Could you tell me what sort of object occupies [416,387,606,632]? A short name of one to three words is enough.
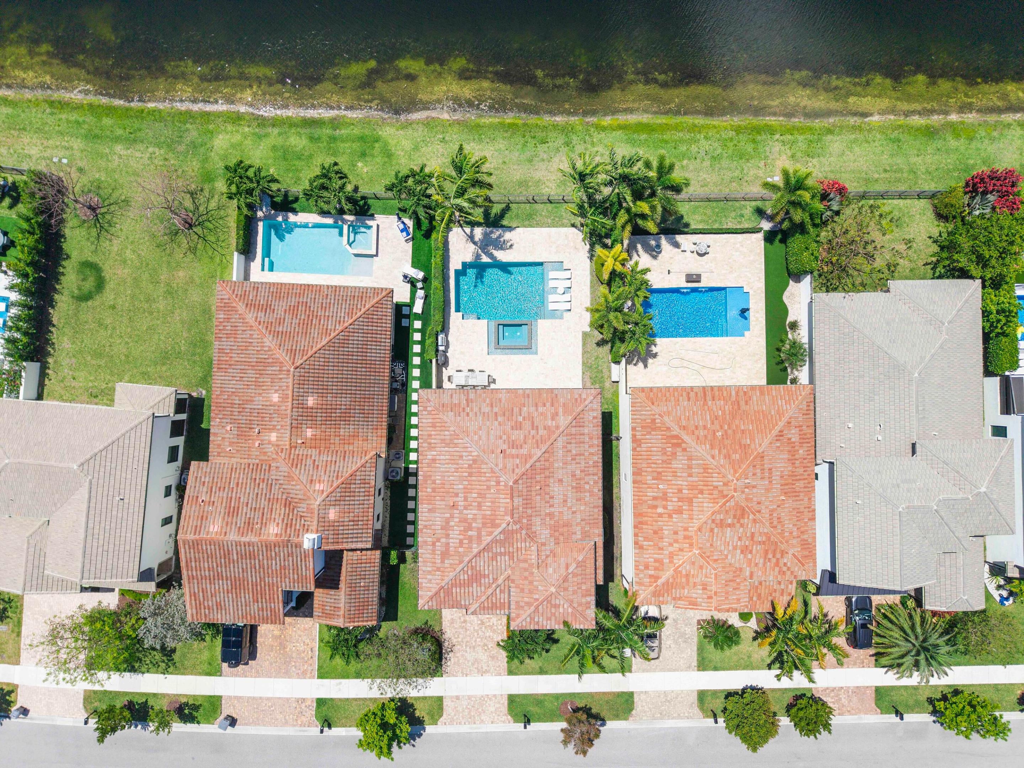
house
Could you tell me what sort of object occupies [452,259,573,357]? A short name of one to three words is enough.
swimming pool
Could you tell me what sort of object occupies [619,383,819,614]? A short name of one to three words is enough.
house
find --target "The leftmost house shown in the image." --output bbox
[0,381,191,595]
